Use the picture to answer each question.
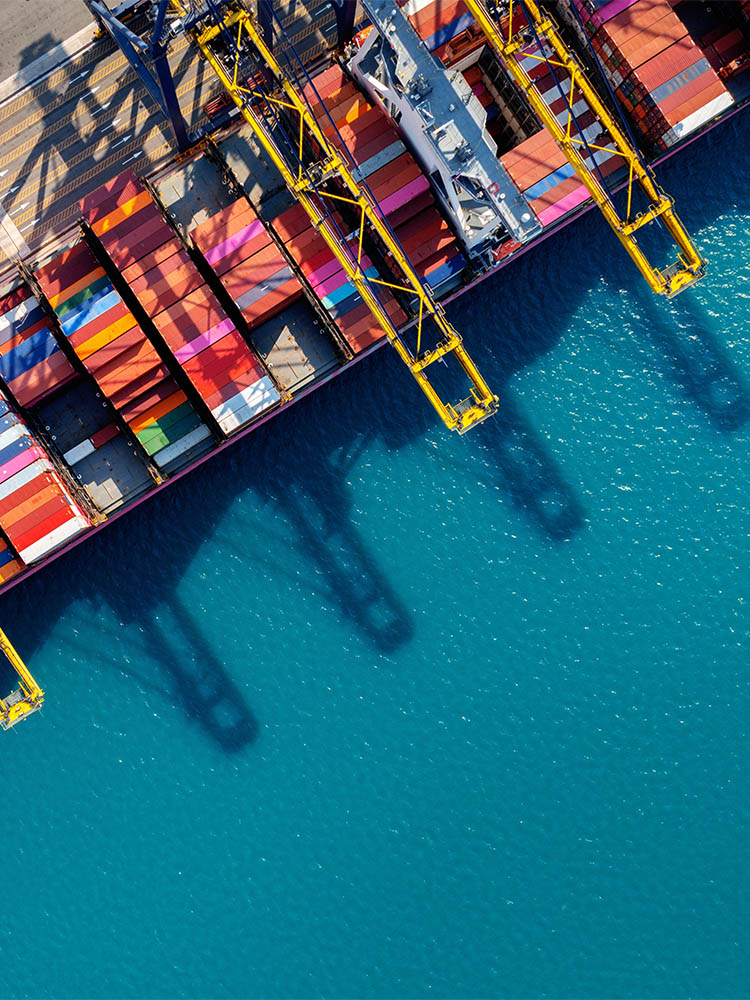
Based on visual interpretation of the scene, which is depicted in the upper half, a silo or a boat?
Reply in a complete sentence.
The feature located in the upper half is a boat.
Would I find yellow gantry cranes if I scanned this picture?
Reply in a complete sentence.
Yes, there's a yellow gantry crane here.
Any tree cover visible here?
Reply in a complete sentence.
No, the scene doesn't show any tree cover.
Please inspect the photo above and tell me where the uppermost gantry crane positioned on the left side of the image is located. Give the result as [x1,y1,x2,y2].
[85,0,505,440]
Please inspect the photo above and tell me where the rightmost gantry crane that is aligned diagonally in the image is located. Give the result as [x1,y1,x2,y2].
[324,0,715,307]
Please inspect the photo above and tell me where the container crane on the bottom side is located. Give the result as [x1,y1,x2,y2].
[0,618,49,737]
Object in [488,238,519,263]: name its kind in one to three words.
boat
